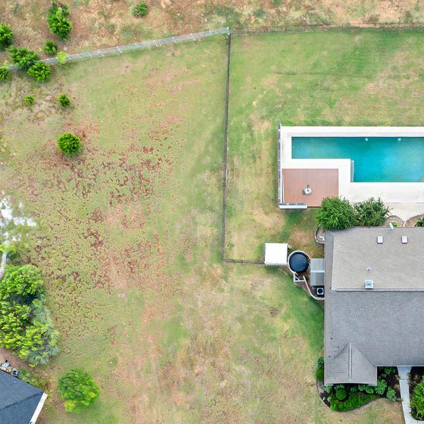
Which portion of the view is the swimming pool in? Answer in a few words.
right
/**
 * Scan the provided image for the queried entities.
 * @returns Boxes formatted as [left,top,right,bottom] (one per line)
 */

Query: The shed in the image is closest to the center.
[265,243,289,267]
